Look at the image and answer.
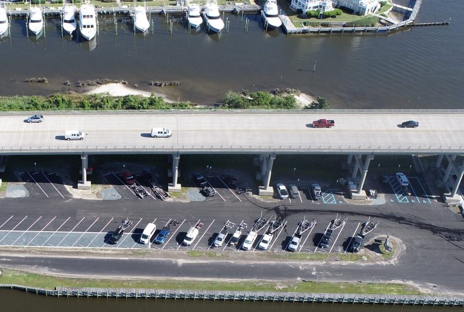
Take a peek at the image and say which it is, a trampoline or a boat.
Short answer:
boat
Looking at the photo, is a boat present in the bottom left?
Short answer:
No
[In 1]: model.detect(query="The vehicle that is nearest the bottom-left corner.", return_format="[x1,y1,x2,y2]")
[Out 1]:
[110,225,128,244]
